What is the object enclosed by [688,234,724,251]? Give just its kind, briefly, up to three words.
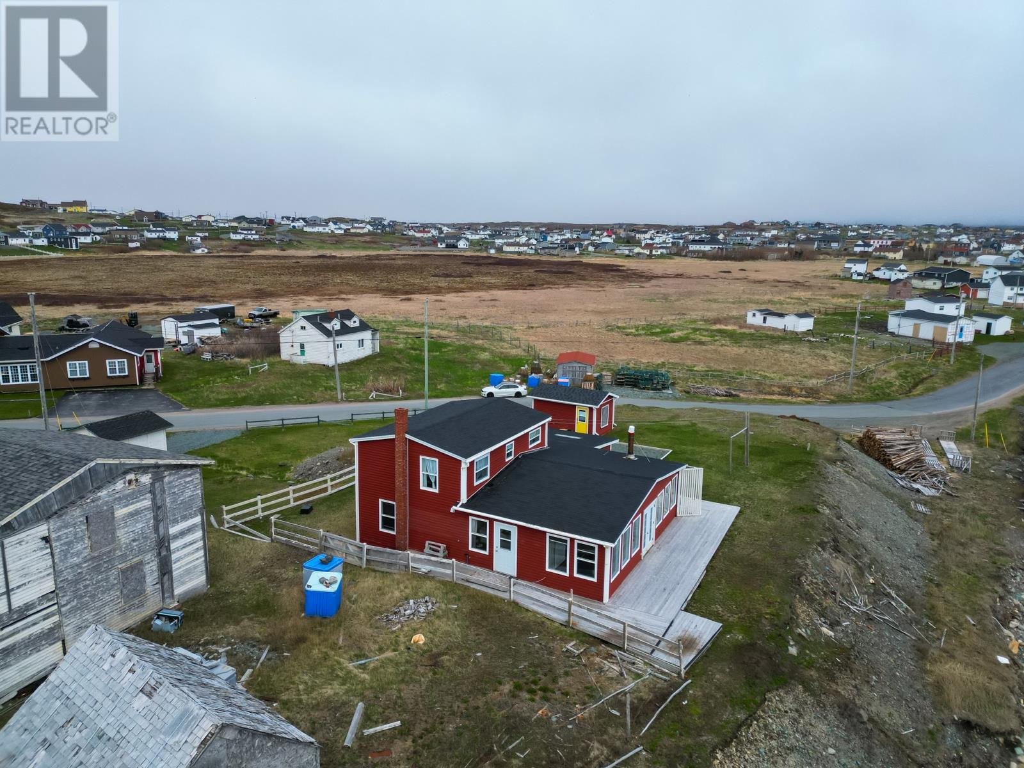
building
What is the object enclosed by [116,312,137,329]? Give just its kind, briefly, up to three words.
work vehicle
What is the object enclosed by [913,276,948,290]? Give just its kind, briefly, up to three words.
house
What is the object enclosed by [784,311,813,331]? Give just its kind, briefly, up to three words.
shed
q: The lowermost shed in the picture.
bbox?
[0,617,324,768]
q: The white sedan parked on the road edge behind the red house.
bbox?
[482,379,529,396]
